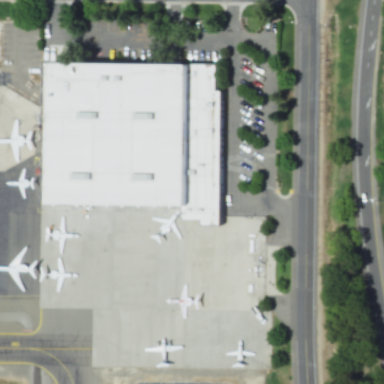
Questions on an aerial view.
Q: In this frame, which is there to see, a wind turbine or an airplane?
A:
airplane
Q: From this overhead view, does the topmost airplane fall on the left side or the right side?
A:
left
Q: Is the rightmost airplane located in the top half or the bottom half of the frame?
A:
bottom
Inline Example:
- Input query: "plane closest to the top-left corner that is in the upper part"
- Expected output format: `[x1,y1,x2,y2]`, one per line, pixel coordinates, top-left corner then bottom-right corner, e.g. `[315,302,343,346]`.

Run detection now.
[0,121,34,163]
